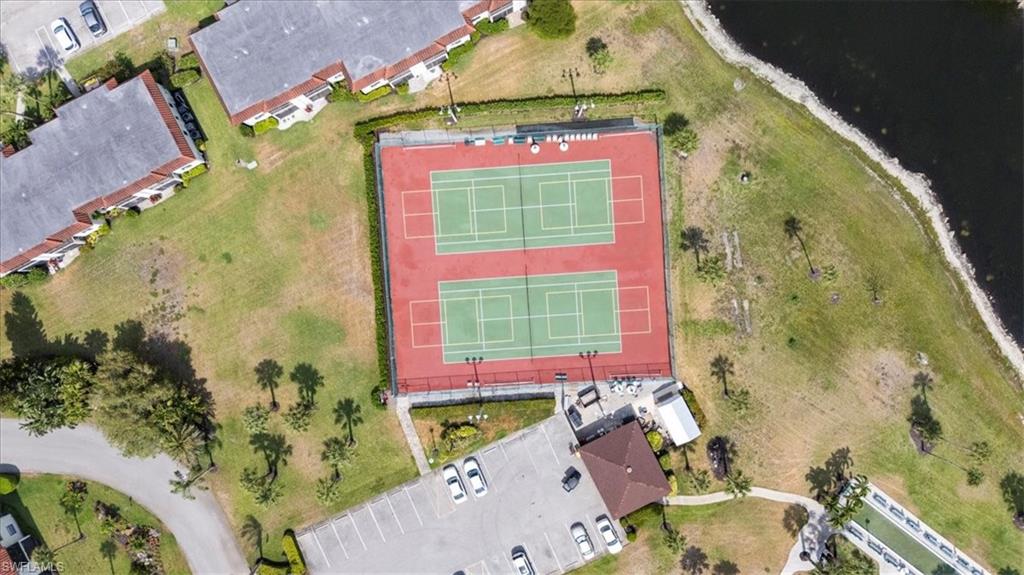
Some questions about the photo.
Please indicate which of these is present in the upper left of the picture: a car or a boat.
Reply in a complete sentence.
What appears in the upper left of the picture is a car.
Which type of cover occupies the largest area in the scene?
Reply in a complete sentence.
What you mostly see from above here is grass.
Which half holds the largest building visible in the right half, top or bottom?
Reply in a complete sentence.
You can find the largest building visible in the right half in the bottom half.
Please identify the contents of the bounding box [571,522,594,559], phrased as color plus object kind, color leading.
white car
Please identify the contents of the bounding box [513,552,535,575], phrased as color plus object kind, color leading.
white car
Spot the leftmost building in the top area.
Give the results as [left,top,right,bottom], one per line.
[0,69,203,281]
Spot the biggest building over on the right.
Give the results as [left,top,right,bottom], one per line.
[578,418,672,519]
